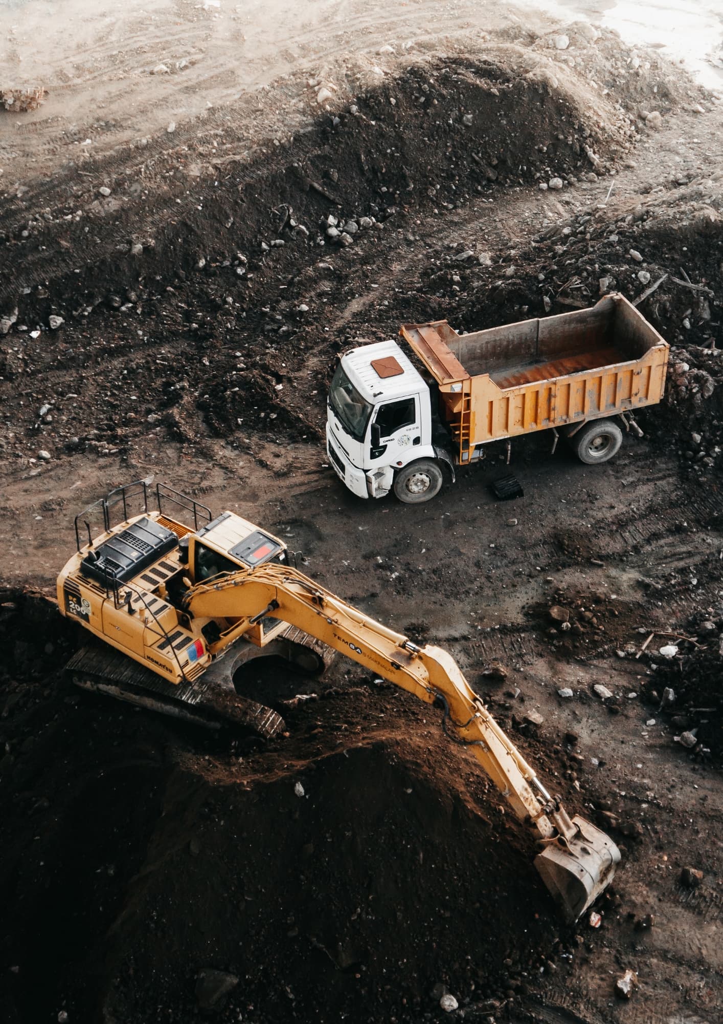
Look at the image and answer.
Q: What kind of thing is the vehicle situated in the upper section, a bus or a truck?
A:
truck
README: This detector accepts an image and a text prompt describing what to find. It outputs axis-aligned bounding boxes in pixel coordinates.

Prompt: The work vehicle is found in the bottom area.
[57,483,626,929]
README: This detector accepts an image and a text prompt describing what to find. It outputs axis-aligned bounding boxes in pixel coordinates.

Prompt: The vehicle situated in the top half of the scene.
[327,291,671,504]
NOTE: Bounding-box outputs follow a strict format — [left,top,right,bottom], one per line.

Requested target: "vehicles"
[327,291,671,504]
[57,483,626,929]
